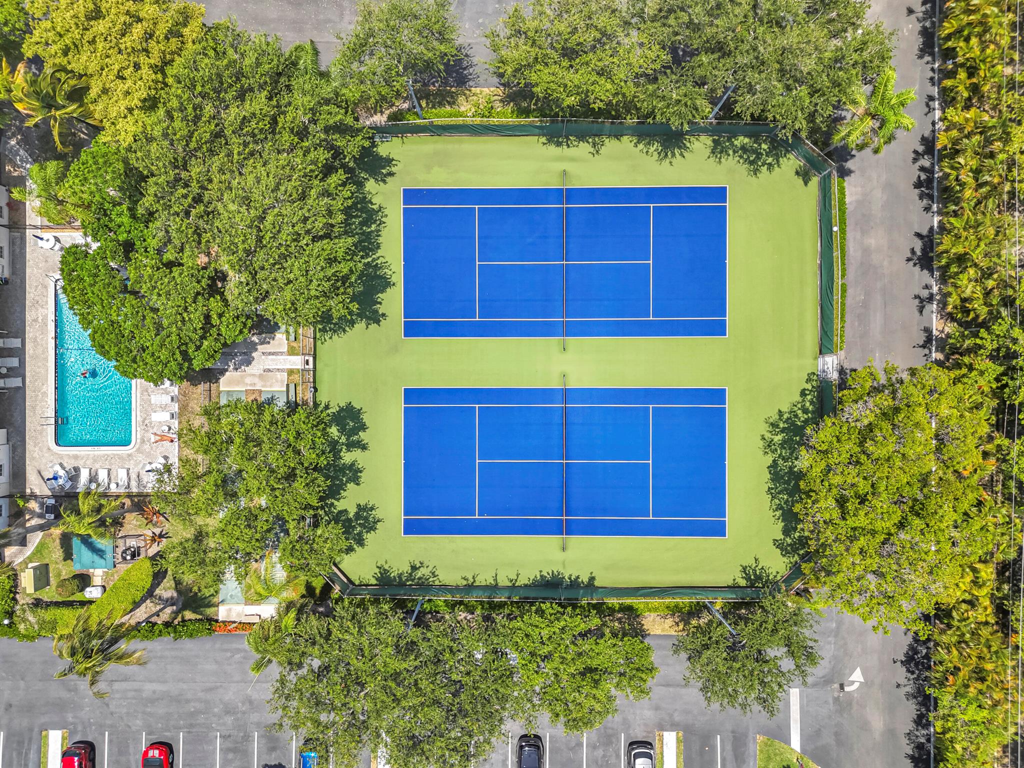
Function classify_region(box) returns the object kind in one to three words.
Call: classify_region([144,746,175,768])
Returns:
car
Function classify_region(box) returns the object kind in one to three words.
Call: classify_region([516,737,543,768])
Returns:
car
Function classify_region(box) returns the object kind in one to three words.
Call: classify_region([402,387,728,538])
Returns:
tennis court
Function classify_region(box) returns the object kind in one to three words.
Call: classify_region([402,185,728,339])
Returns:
tennis court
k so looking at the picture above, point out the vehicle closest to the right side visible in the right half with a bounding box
[627,744,653,768]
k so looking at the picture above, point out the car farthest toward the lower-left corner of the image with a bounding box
[59,745,95,768]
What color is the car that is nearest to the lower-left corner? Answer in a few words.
red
